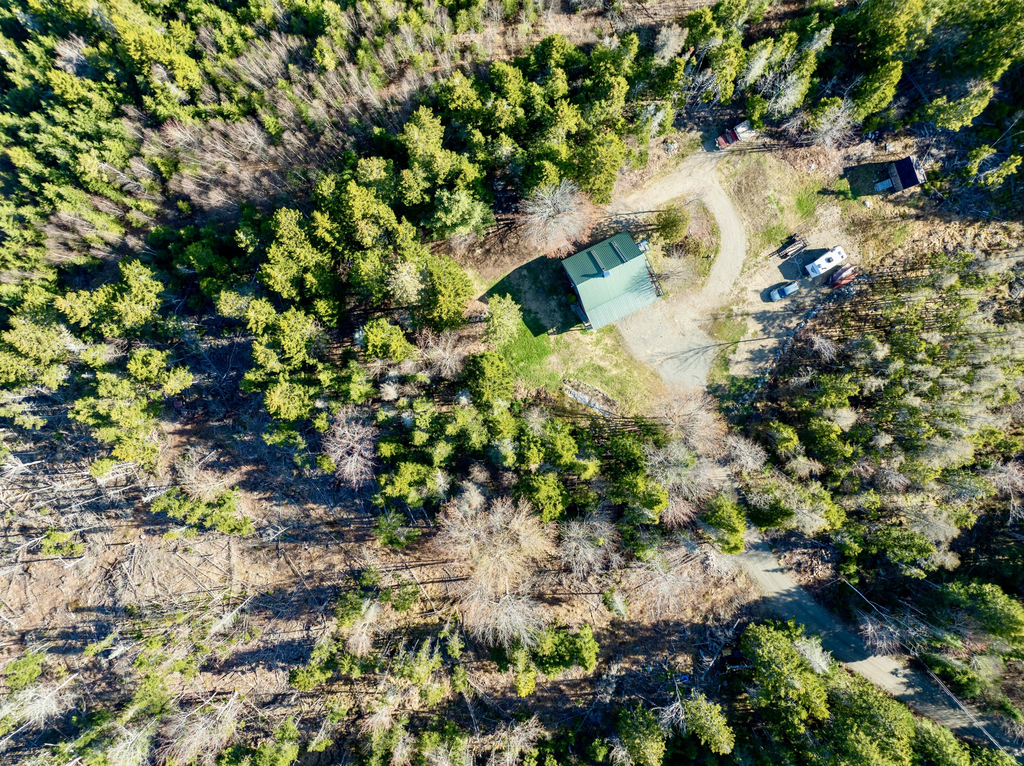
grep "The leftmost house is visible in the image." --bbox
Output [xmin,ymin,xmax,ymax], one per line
[561,231,665,334]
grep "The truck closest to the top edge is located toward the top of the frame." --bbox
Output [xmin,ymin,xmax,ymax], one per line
[714,121,755,150]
